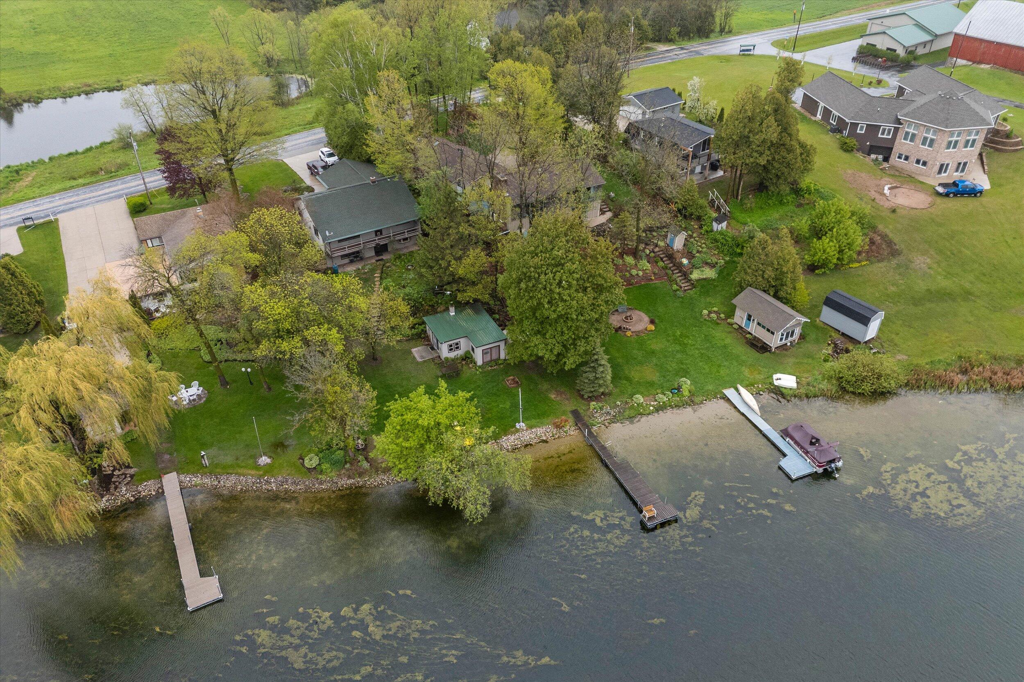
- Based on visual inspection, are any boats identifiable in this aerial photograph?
Yes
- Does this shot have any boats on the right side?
Yes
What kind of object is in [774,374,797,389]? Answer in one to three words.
boat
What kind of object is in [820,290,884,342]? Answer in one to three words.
shed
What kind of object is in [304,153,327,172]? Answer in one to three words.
vehicle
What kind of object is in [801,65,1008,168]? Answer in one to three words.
house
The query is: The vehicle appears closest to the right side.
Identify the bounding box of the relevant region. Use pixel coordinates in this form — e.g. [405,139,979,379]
[936,179,989,197]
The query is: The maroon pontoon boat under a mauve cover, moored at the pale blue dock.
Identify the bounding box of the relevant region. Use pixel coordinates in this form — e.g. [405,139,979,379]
[780,423,840,479]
